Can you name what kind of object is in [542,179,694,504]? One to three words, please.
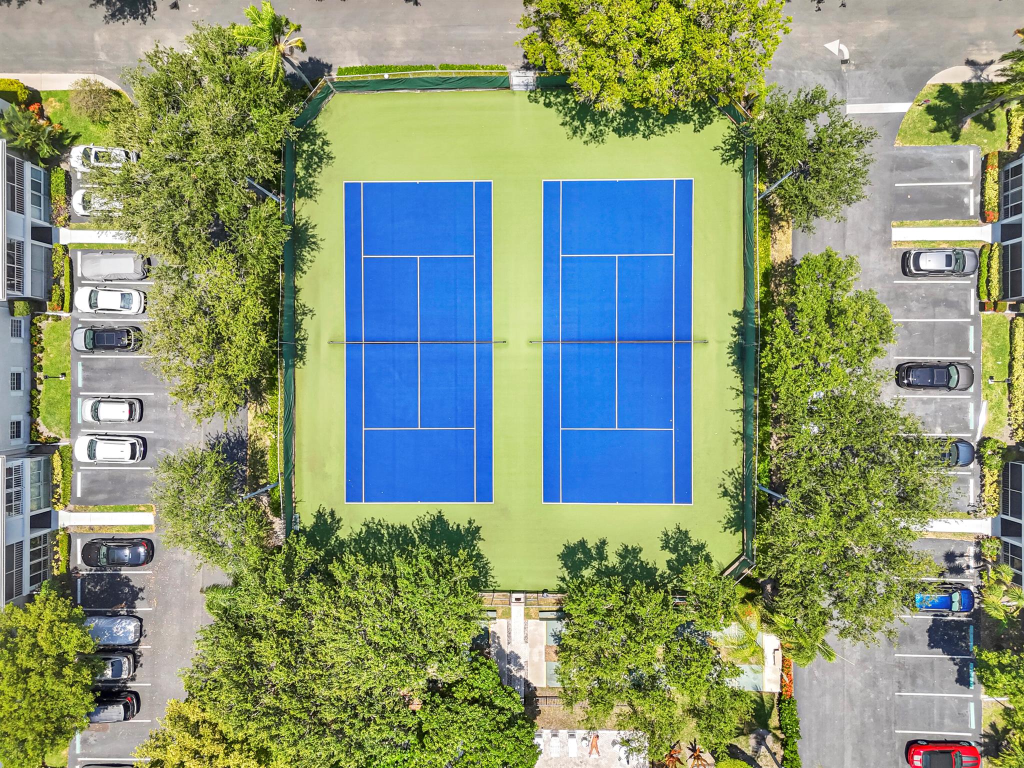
tennis court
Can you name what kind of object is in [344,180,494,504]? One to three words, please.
tennis court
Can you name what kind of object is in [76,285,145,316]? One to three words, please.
car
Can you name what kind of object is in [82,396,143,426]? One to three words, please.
car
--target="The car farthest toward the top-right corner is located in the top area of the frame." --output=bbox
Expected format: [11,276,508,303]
[904,246,975,278]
